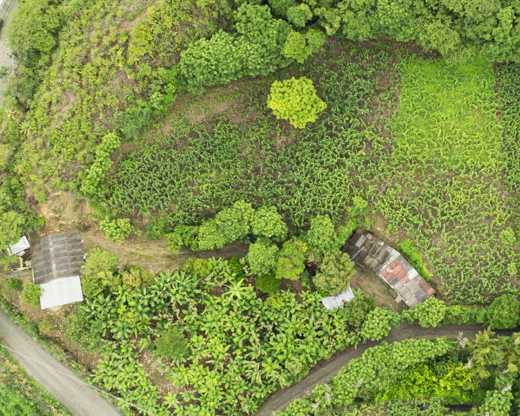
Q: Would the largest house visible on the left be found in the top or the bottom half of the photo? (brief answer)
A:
bottom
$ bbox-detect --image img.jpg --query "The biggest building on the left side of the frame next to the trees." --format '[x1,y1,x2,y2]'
[28,231,88,310]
